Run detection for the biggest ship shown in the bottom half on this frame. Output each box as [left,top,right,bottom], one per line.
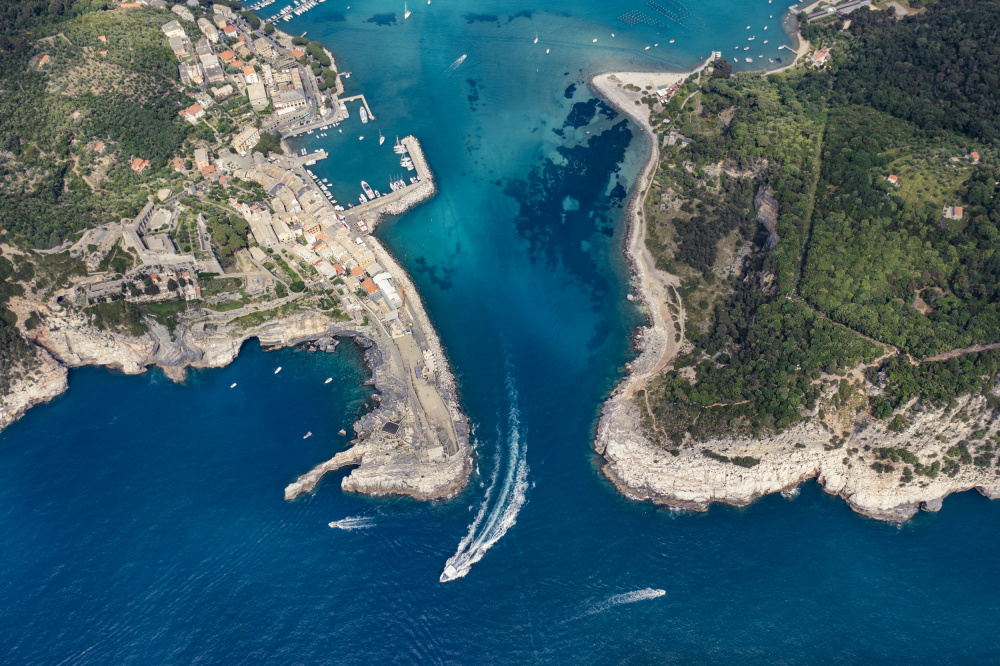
[439,550,469,582]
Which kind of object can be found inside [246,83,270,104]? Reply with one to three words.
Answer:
building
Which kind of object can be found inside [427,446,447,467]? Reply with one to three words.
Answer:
building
